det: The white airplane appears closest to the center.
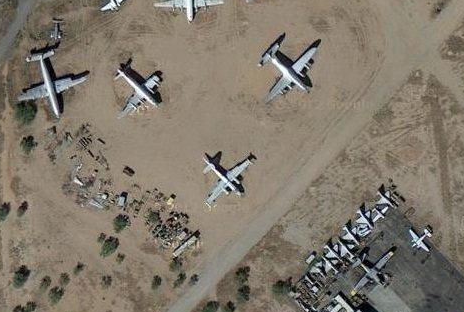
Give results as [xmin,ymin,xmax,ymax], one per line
[202,157,252,207]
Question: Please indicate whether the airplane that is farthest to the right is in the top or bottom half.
bottom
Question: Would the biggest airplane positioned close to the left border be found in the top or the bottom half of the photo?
top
